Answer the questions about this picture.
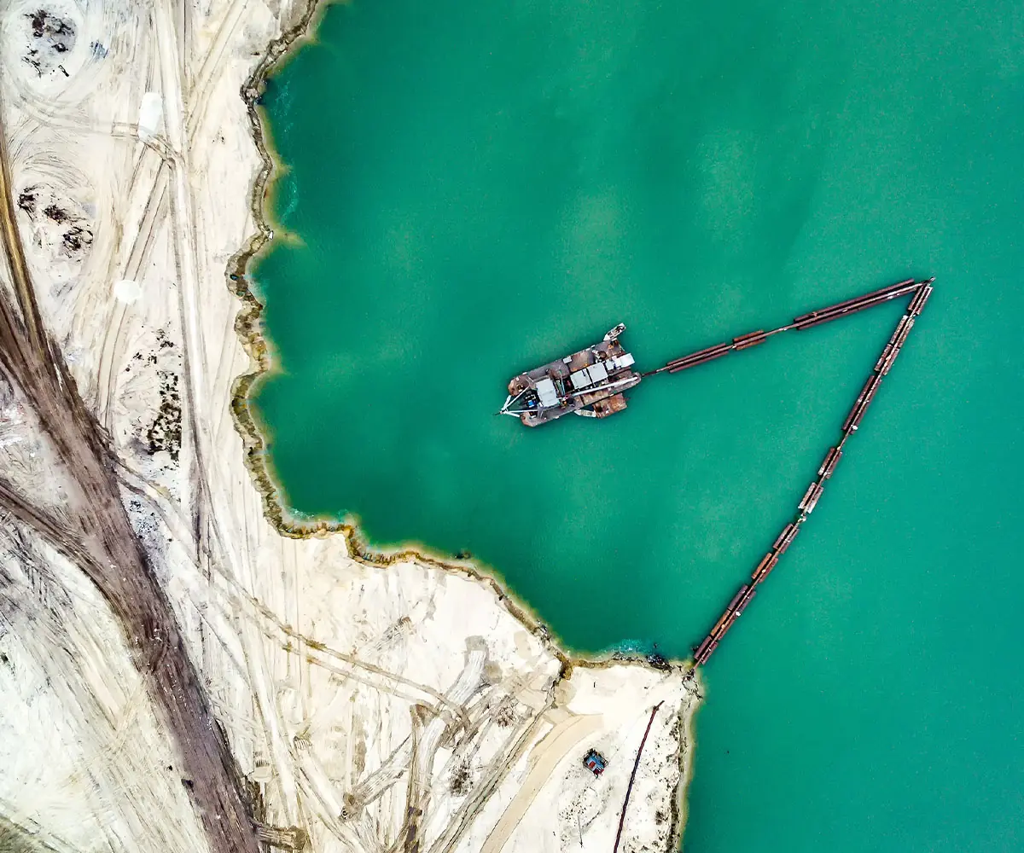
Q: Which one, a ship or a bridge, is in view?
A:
ship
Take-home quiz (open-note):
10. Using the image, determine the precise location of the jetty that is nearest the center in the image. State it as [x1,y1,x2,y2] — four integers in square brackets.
[641,343,734,376]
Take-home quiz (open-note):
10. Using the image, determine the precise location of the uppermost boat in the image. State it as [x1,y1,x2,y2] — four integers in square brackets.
[604,323,627,342]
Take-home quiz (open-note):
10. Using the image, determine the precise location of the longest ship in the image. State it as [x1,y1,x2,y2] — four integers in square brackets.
[496,339,642,427]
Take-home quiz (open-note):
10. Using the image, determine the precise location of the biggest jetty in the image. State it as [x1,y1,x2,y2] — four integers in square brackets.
[782,279,922,330]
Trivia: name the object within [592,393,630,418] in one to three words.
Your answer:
ship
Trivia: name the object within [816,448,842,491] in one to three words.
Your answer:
pier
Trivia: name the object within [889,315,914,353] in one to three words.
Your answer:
pier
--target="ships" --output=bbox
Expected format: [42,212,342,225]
[592,393,630,418]
[496,339,642,427]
